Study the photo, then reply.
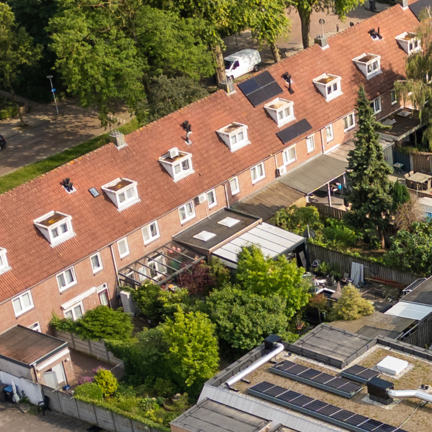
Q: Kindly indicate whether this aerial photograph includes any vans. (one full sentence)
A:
Yes, there is a van in the image.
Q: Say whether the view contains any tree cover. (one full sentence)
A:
Yes, tree cover shows up in the scene.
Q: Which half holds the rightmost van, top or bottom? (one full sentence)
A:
The rightmost van is in the top half of the image.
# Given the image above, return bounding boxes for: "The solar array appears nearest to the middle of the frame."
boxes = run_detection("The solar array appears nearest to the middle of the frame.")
[277,118,313,141]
